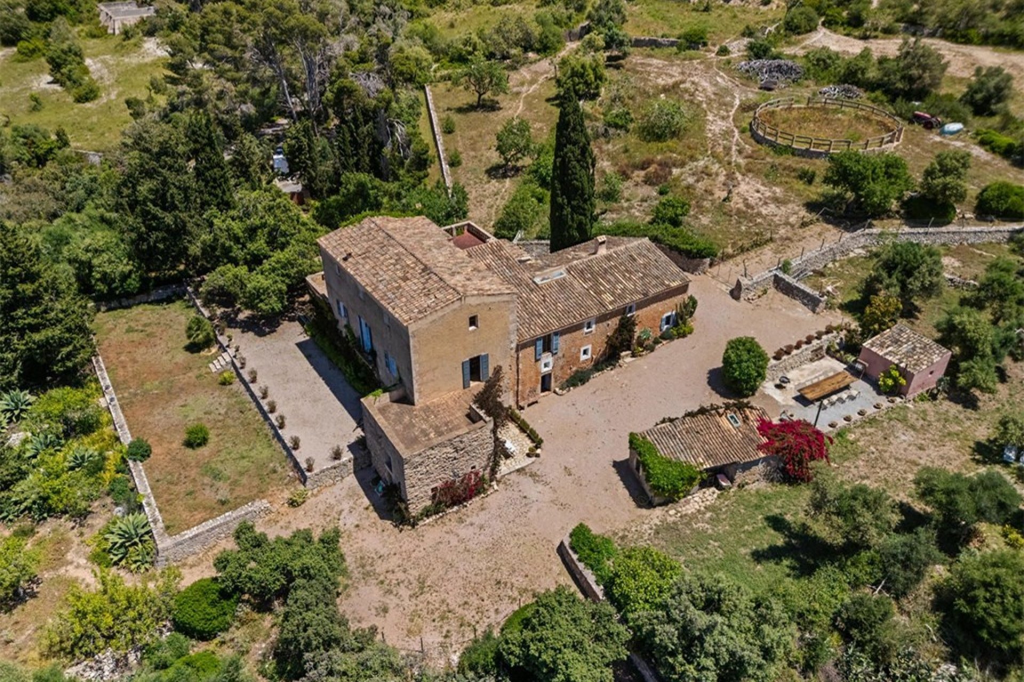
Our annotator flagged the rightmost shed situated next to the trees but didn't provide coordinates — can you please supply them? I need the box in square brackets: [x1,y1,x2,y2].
[847,321,953,399]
